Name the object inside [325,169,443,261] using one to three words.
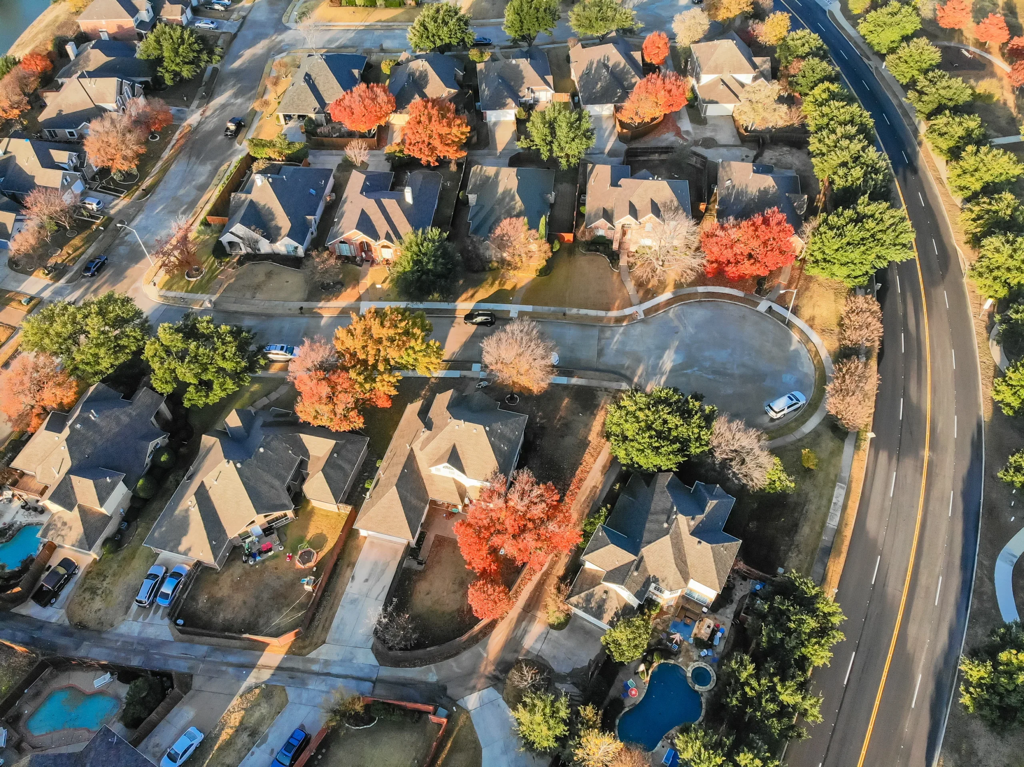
house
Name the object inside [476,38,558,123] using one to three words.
house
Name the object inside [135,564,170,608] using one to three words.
car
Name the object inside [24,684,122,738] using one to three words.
swimming pool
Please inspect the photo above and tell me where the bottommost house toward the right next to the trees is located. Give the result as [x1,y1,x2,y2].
[562,466,743,637]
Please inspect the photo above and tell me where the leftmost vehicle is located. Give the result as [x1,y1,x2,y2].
[25,553,83,610]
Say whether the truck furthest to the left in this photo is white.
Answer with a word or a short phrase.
No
